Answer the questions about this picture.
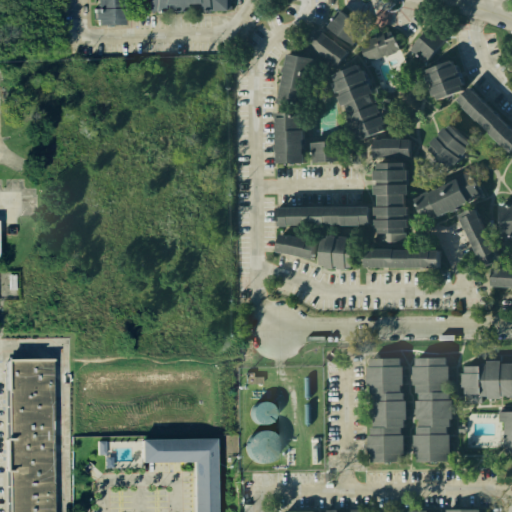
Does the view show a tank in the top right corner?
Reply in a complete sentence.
No, I can find no tank in the top right corner.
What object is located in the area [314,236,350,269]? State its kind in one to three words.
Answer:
building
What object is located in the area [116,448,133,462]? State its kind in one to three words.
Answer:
swimming pool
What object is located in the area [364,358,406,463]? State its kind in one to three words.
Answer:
building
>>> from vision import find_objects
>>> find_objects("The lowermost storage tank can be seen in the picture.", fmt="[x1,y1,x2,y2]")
[245,429,282,464]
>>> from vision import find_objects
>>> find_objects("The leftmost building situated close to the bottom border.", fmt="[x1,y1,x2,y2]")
[6,359,56,512]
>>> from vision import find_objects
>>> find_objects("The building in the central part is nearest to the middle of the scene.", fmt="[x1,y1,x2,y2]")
[270,235,316,260]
